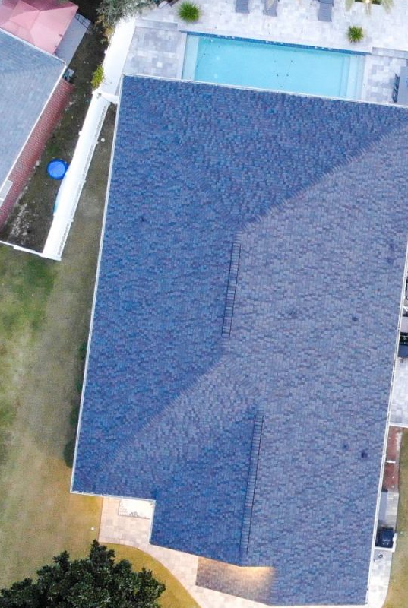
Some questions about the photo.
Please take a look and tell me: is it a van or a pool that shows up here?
pool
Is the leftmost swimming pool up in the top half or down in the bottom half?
top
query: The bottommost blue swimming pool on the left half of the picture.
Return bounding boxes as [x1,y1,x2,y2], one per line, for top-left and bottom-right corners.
[45,158,68,180]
